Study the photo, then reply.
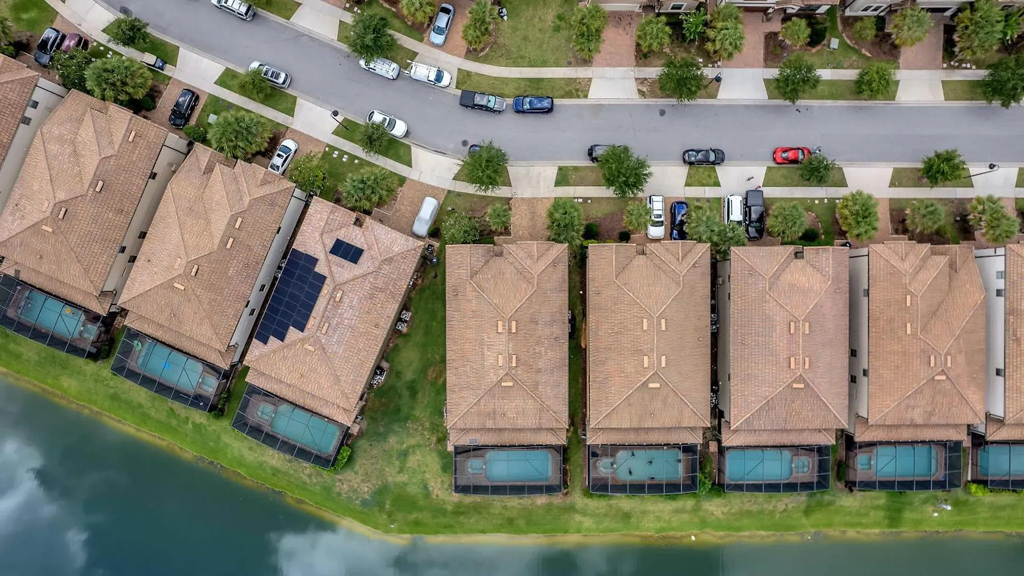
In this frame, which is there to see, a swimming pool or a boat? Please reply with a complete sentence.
There is a swimming pool in the scene.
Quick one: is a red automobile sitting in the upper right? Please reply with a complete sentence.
Yes, a red automobile shows up in the upper right.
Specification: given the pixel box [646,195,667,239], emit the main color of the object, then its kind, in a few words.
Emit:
white car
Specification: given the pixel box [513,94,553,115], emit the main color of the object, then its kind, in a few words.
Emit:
blue car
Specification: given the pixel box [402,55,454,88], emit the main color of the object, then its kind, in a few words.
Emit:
white truck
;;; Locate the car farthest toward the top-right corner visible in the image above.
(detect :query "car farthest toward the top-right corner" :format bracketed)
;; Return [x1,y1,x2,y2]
[772,145,812,165]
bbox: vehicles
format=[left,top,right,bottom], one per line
[430,2,455,47]
[358,56,402,84]
[513,94,553,115]
[138,48,169,71]
[211,0,257,25]
[669,201,687,239]
[402,55,454,88]
[772,145,812,165]
[365,109,410,140]
[34,23,67,68]
[744,189,765,239]
[682,146,724,166]
[249,60,294,92]
[723,195,745,226]
[646,195,667,239]
[268,137,298,177]
[170,86,200,130]
[586,144,619,163]
[61,25,91,58]
[459,90,506,114]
